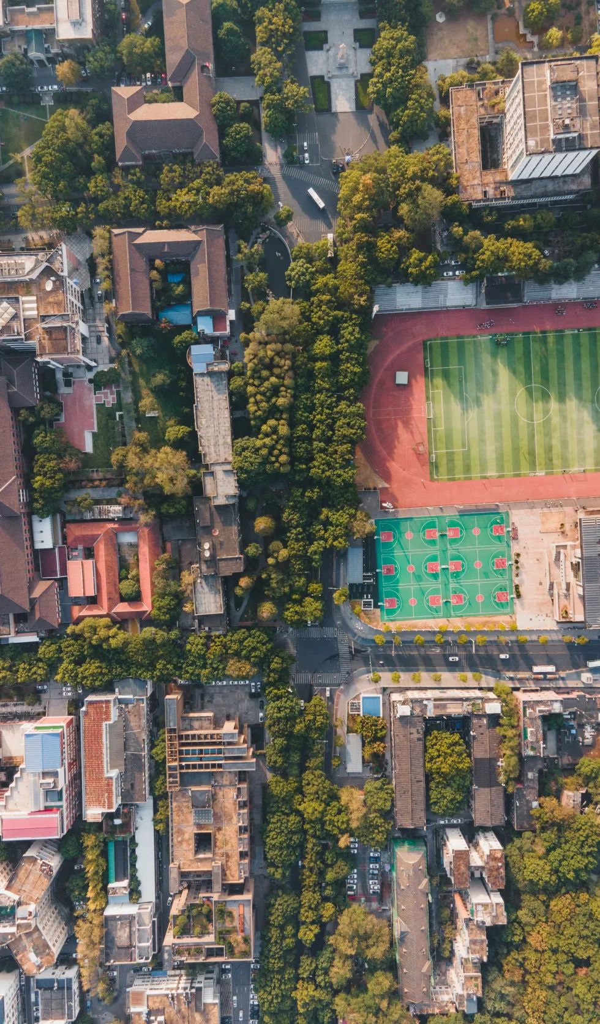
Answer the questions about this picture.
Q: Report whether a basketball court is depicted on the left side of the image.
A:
No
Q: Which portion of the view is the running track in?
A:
right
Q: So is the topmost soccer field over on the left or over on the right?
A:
right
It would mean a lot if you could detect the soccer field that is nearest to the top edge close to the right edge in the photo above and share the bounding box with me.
[422,329,600,481]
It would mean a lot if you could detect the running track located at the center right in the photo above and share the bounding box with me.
[353,301,600,509]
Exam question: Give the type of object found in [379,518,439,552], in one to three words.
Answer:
basketball court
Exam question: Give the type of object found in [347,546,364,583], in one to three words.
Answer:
shed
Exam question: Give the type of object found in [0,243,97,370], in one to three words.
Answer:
building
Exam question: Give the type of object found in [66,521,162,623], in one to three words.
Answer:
building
